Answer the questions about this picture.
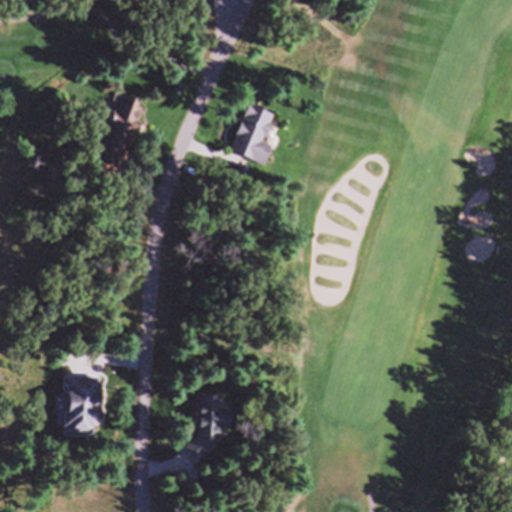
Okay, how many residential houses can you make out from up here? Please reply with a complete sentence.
In total, there are 5 residential houses in the scene.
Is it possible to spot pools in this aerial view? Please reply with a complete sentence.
No, the picture doesn't show any pool.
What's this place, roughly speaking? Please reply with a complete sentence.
It's a golf course.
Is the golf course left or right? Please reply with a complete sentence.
The golf course is on the right side of the image.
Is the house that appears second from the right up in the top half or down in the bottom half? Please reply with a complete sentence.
The house that appears second from the right is in the bottom half of the image.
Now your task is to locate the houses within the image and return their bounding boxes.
[197,396,234,440]
[108,90,146,141]
[230,100,276,166]
[13,146,54,192]
[56,376,100,436]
